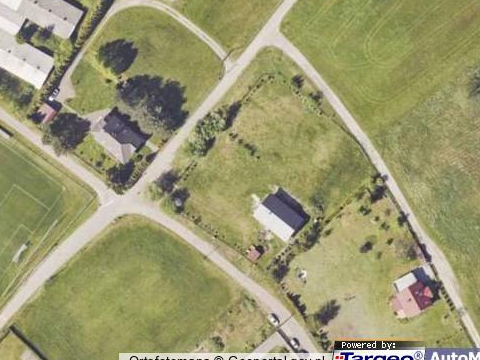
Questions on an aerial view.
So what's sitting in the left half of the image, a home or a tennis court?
home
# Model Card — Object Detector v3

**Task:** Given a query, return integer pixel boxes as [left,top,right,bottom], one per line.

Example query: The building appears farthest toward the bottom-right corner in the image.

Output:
[396,282,435,318]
